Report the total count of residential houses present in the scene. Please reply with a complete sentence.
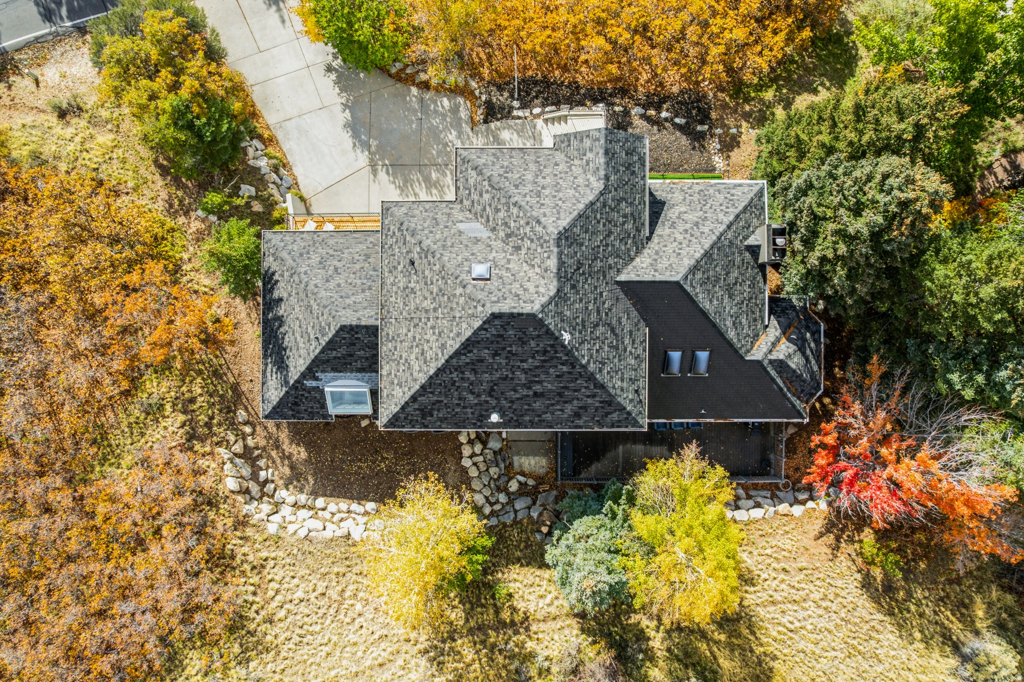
Just 1 residential house appears in this view.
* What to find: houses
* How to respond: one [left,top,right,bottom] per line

[261,124,826,431]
